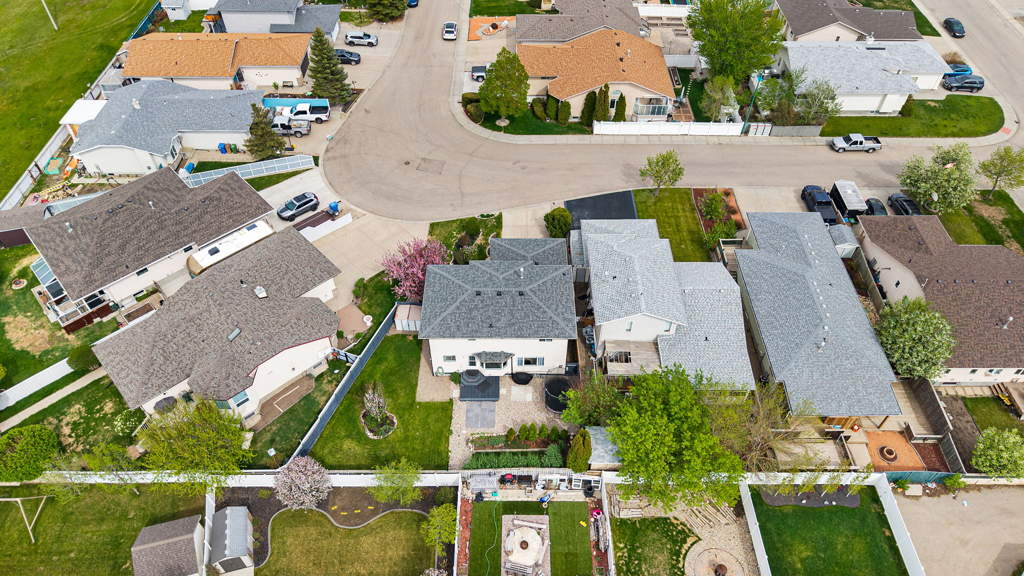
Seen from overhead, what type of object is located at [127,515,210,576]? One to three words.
shed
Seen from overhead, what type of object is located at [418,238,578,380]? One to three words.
house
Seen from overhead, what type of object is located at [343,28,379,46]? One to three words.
car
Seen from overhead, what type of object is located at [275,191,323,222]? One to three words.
car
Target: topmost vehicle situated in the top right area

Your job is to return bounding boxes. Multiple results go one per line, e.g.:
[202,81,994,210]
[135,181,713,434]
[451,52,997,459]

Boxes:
[941,17,971,36]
